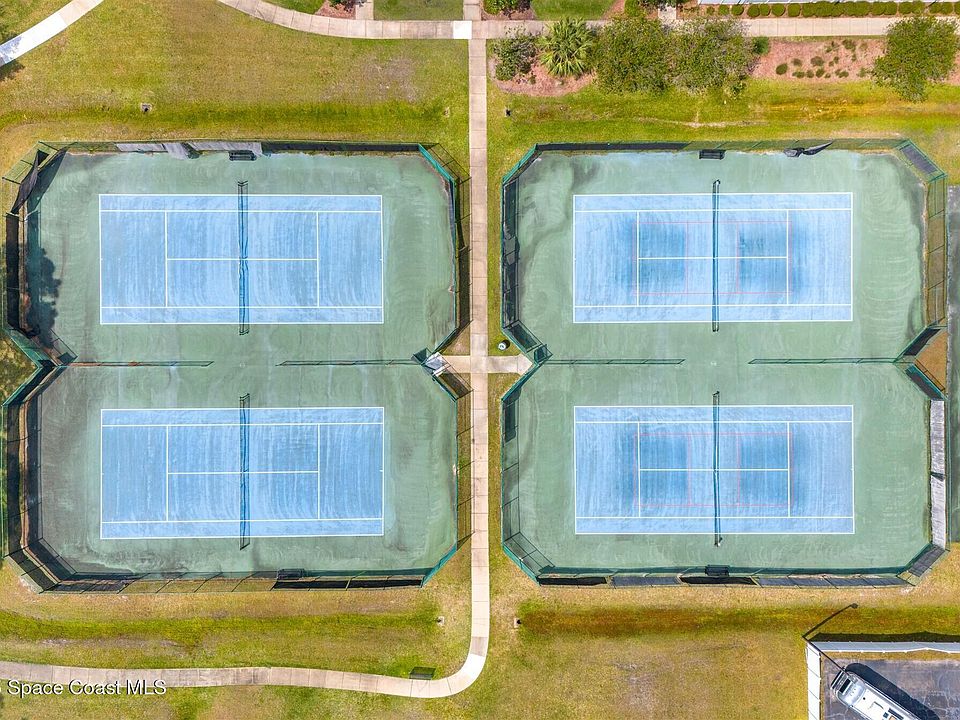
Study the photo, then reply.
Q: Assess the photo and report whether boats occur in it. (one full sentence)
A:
No, there is no boat in the image.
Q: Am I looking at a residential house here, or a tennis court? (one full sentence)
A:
It is a tennis court that can be seen here.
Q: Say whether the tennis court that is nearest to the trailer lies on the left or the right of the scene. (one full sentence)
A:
It is on the right.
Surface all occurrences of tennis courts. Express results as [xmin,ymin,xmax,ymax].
[505,364,927,575]
[27,156,453,364]
[27,364,455,578]
[504,154,924,364]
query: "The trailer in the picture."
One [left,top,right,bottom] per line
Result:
[830,668,922,720]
